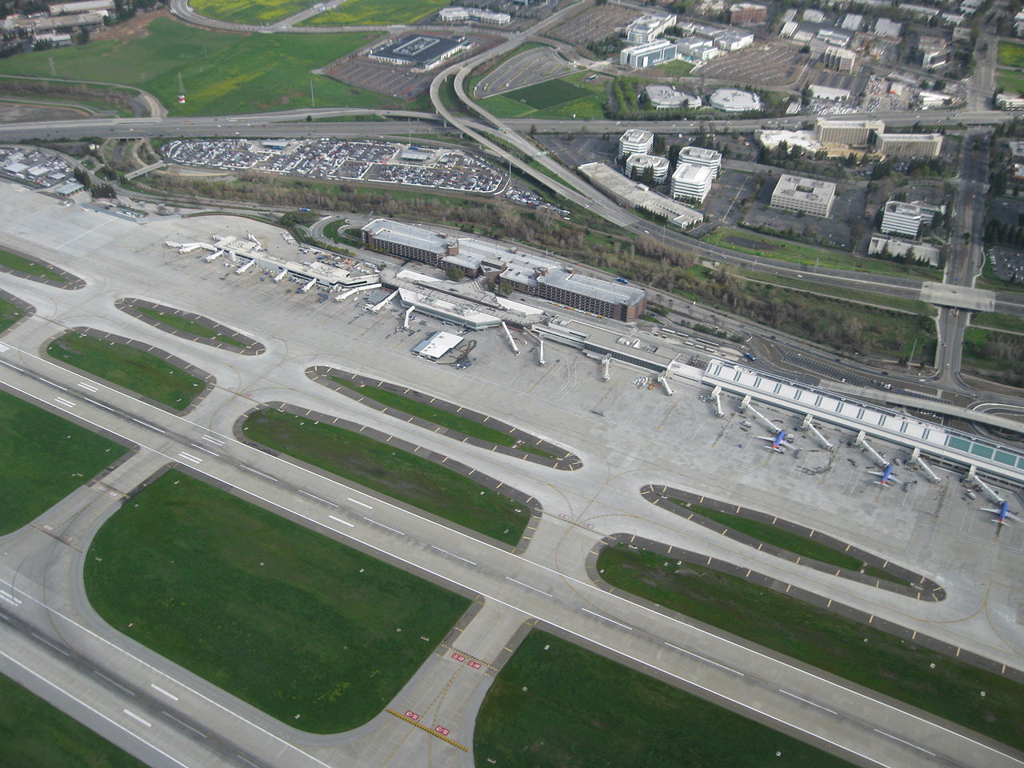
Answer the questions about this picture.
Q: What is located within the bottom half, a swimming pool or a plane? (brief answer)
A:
plane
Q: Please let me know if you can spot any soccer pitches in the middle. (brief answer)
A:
No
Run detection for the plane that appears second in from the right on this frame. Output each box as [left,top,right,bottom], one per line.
[863,463,908,487]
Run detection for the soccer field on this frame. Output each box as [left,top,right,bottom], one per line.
[498,79,593,110]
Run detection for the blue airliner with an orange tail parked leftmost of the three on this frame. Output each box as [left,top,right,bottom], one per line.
[756,429,798,451]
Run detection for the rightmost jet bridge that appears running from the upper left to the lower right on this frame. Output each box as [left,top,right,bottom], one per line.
[975,472,1005,502]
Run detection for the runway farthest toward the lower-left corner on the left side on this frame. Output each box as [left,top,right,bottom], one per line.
[0,582,333,768]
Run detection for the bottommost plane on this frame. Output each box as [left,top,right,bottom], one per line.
[977,500,1024,526]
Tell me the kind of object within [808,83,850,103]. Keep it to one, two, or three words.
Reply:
building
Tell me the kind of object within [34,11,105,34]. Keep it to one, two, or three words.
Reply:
shed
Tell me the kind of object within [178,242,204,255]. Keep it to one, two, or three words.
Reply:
jet bridge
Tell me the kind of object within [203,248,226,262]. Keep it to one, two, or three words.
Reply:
jet bridge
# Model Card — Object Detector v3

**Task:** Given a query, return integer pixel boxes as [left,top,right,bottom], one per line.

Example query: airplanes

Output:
[863,463,908,487]
[977,500,1024,526]
[756,429,798,451]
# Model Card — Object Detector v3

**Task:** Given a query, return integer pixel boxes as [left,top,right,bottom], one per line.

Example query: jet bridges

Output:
[163,241,219,252]
[862,437,889,466]
[273,270,286,283]
[370,289,399,316]
[210,234,225,242]
[747,403,775,430]
[301,281,315,294]
[539,338,545,364]
[975,472,1005,502]
[235,259,257,276]
[178,242,204,255]
[333,282,383,302]
[246,233,262,247]
[203,248,226,262]
[403,306,416,328]
[809,420,833,448]
[716,396,724,417]
[604,354,611,381]
[501,321,520,355]
[919,455,941,484]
